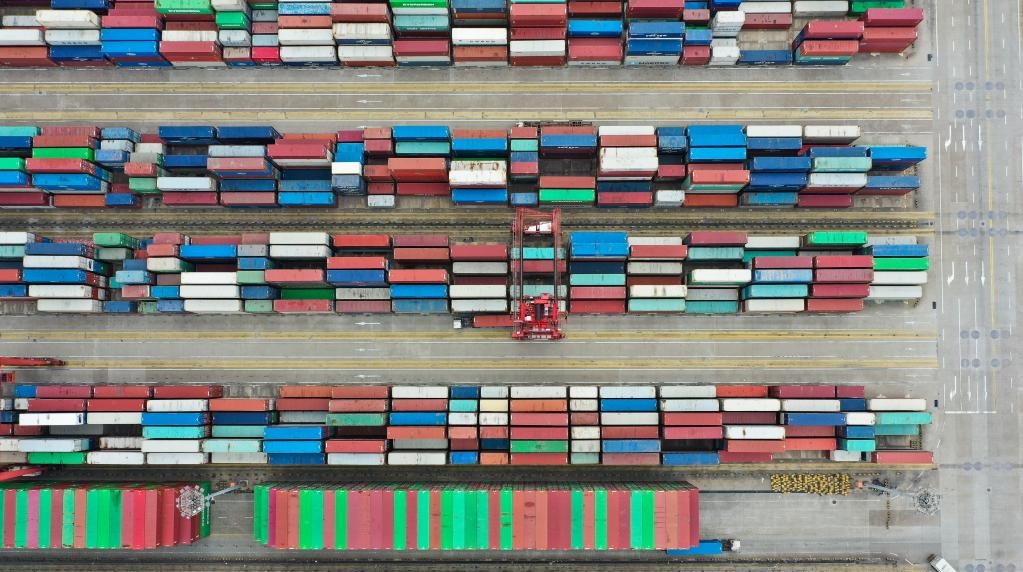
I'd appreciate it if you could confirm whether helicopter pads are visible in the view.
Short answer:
No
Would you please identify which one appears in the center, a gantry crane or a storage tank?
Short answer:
gantry crane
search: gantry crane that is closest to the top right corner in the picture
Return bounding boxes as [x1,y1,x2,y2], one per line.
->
[508,208,569,342]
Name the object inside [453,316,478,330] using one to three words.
vehicle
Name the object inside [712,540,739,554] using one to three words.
vehicle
